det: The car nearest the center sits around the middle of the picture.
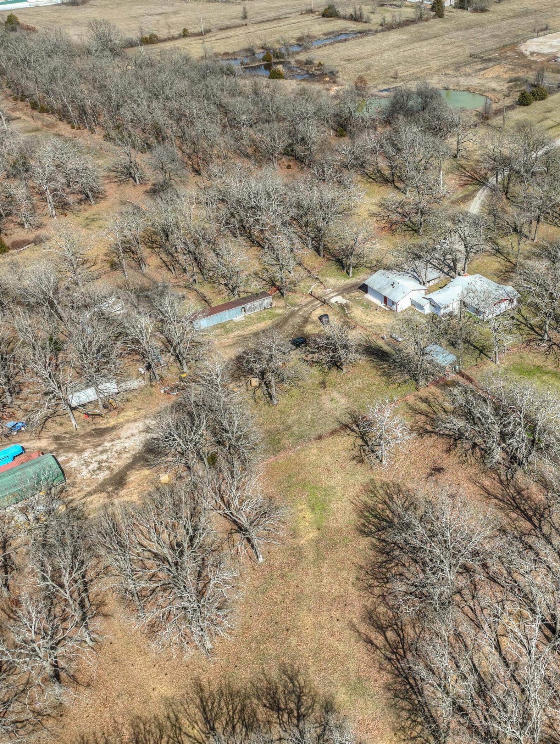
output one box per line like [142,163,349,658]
[285,333,312,346]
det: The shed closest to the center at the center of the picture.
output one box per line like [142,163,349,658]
[185,288,273,329]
